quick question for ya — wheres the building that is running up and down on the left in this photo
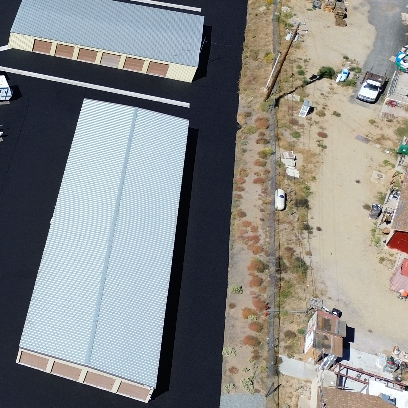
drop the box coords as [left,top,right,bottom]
[17,99,189,400]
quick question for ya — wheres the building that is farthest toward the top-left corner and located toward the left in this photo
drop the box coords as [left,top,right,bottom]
[8,0,203,81]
